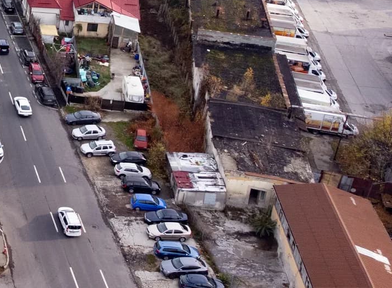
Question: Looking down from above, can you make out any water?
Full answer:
No, water can't be seen anywhere here.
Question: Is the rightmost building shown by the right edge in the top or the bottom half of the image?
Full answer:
The rightmost building shown by the right edge is in the bottom half of the image.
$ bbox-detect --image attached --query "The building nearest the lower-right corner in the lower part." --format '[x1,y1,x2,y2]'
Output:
[270,179,392,288]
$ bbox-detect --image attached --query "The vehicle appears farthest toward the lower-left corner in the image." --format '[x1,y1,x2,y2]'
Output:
[55,206,82,237]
